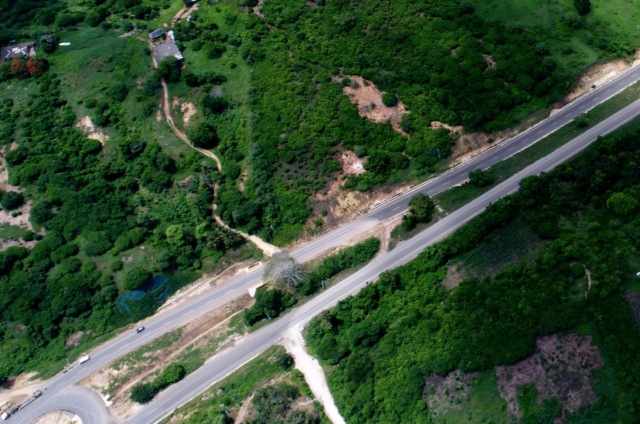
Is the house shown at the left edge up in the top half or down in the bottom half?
top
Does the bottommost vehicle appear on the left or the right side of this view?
left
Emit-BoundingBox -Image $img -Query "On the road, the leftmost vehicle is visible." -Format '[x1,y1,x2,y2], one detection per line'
[1,392,42,421]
